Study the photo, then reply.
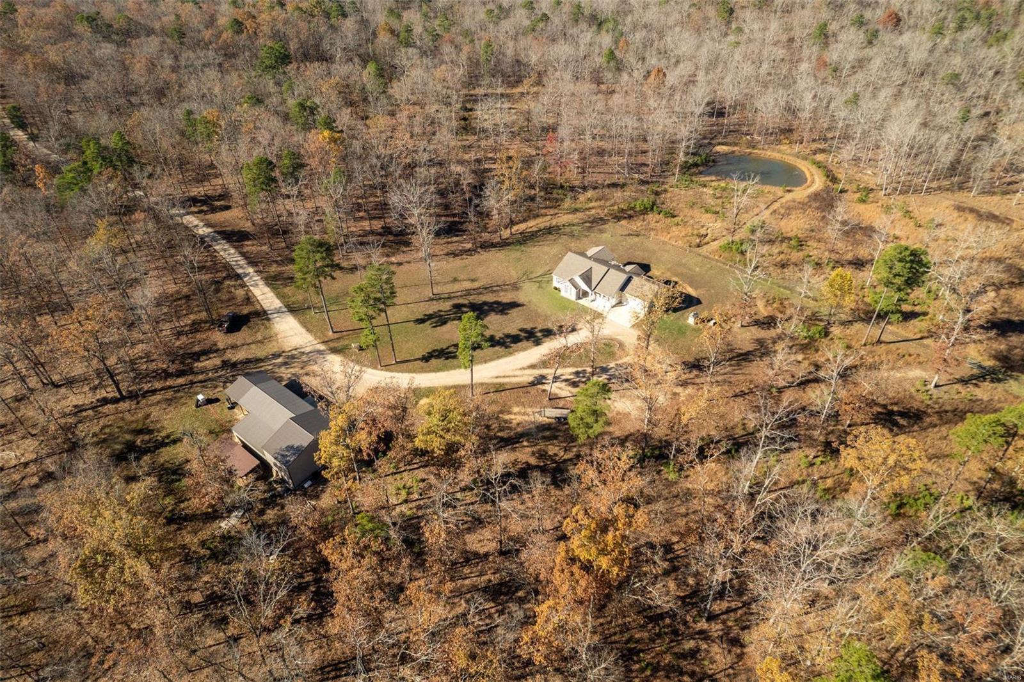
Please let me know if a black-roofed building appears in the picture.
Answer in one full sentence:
No, I find no black-roofed building anywhere in the image.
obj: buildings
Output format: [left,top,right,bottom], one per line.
[222,370,344,487]
[551,246,680,316]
